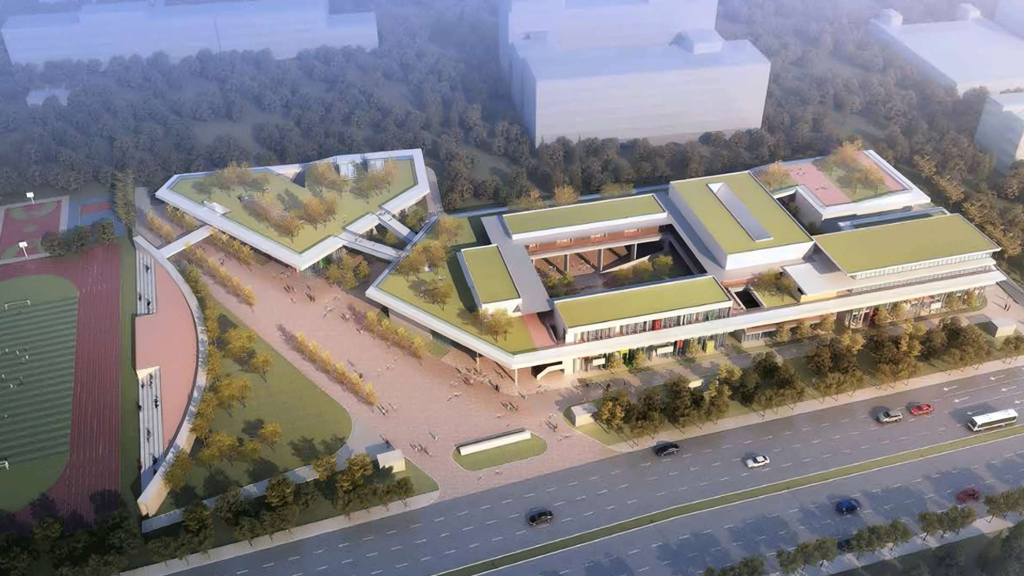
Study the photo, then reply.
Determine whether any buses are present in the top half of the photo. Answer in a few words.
No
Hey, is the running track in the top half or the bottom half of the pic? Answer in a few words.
bottom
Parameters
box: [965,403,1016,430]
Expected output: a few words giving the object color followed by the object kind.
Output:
white bus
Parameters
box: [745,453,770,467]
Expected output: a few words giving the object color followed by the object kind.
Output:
white car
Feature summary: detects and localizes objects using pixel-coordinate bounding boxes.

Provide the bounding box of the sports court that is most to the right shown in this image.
[68,189,127,242]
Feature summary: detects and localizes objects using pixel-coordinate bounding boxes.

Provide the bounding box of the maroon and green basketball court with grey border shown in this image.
[0,196,71,264]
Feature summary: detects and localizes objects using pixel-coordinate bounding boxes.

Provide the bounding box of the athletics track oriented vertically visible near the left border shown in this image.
[0,240,122,565]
